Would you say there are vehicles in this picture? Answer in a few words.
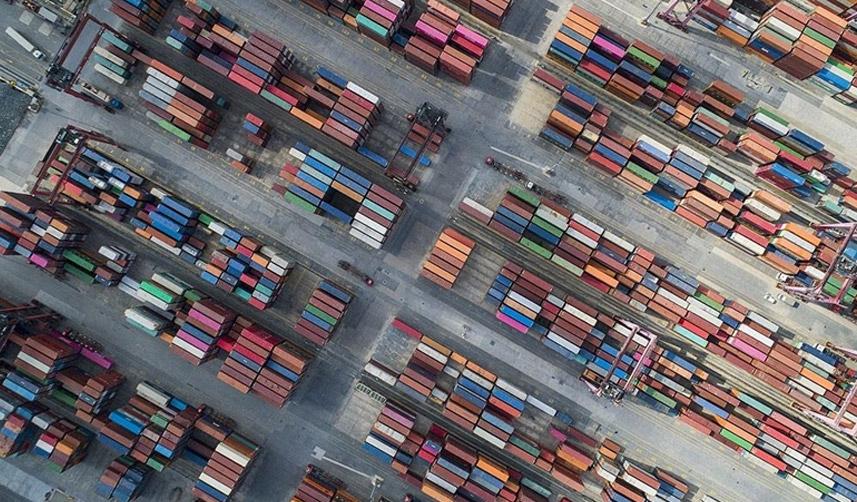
Yes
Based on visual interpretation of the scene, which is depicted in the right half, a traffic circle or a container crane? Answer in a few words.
container crane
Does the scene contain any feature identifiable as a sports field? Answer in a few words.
No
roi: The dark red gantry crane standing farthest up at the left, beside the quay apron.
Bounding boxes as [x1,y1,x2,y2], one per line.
[42,8,146,114]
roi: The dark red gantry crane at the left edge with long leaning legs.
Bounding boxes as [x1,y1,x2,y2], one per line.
[0,300,64,388]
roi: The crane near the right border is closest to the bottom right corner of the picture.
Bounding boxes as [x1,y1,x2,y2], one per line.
[787,336,857,436]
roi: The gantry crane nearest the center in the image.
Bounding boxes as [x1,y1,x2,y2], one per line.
[377,105,445,201]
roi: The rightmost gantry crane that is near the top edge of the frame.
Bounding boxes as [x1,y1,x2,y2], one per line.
[655,0,716,34]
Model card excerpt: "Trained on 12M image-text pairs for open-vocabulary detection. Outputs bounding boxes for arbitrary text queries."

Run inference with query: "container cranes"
[42,8,146,114]
[787,336,857,436]
[655,0,716,34]
[21,123,129,218]
[770,218,857,308]
[0,300,64,388]
[575,309,664,405]
[377,105,445,201]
